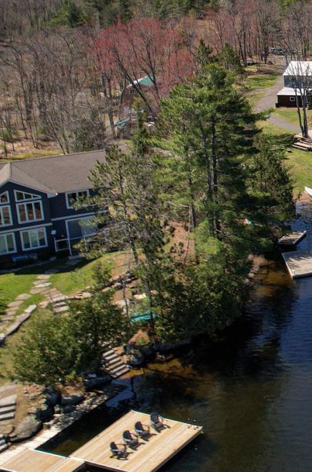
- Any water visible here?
Yes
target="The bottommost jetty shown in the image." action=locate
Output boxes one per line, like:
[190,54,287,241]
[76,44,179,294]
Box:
[4,449,86,472]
